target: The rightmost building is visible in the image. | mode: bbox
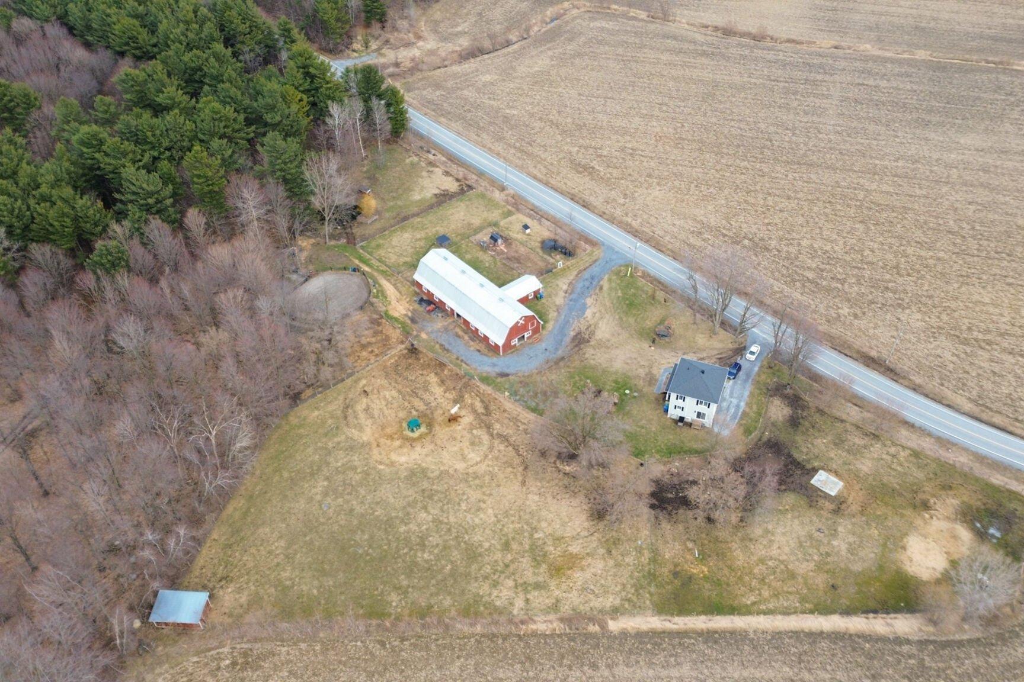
[661,360,728,433]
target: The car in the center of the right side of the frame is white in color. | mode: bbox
[747,344,759,362]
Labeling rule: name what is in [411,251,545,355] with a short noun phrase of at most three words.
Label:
barn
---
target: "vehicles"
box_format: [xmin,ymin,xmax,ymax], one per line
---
[728,361,741,381]
[425,300,437,310]
[747,344,759,362]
